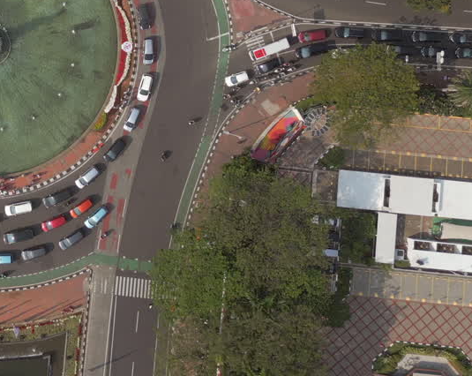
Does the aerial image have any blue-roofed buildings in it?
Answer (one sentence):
No, I can't see a single blue-roofed building in this photo.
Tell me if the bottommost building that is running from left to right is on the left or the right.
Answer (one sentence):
You can find the bottommost building that is running from left to right on the right side of the picture.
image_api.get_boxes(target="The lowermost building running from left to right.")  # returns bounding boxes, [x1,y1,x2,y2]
[401,236,472,272]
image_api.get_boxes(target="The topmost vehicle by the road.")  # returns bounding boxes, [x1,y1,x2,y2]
[139,2,153,31]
